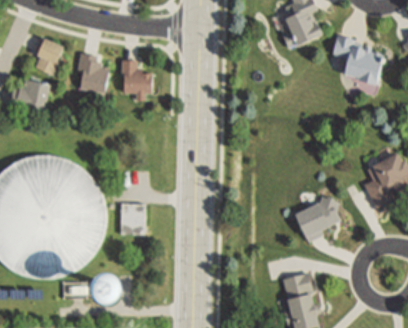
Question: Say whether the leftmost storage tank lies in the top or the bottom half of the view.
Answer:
bottom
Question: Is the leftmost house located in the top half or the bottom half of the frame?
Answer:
top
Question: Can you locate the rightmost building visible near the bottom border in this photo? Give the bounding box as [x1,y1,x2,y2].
[283,274,320,328]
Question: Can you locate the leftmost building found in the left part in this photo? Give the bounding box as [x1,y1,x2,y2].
[20,77,50,108]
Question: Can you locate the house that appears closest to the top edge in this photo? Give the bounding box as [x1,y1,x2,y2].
[286,0,325,46]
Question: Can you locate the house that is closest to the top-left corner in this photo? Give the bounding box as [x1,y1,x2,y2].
[38,38,68,75]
